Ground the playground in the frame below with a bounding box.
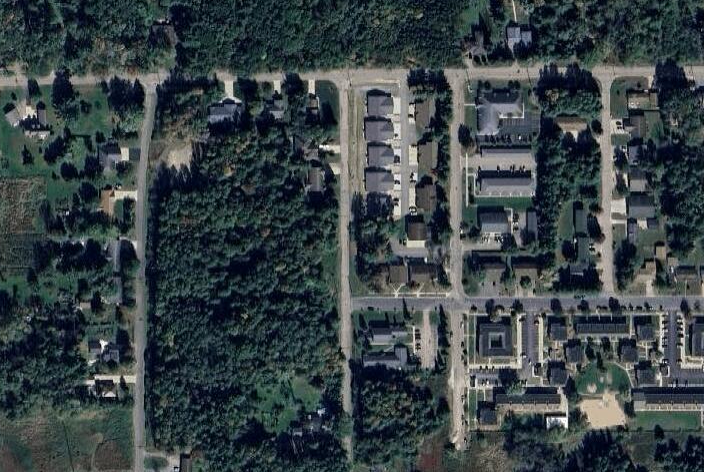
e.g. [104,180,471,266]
[580,392,625,427]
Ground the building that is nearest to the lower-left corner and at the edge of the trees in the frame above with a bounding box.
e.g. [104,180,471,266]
[90,380,114,395]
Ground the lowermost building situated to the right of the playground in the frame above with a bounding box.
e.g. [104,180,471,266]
[633,391,704,405]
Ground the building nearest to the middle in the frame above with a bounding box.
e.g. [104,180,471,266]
[368,197,393,218]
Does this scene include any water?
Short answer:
No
